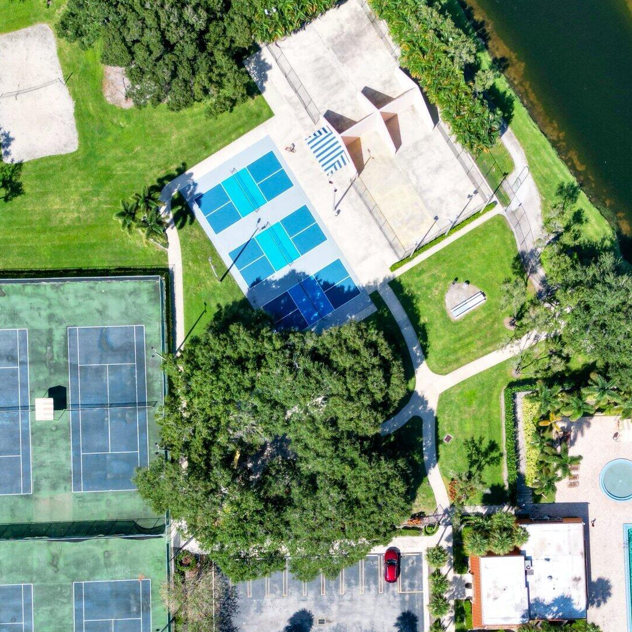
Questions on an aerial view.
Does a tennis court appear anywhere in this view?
Yes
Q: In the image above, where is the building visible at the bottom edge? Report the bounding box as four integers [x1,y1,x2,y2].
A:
[470,518,587,632]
